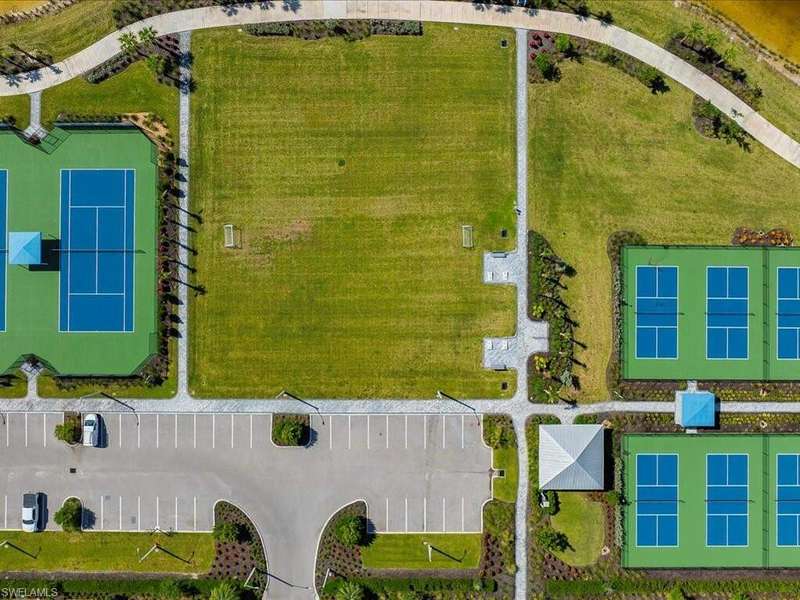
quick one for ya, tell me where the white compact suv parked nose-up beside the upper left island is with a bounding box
[80,414,98,446]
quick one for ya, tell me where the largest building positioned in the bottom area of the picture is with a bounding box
[538,423,605,490]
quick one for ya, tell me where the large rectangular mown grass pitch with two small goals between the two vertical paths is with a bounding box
[190,21,517,398]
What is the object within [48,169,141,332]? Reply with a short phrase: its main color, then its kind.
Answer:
blue tennis court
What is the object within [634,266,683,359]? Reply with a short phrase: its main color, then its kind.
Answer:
blue sports court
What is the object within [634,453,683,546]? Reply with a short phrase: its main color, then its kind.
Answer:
blue sports court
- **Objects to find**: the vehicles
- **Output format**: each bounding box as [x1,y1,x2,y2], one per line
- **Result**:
[80,414,98,446]
[22,491,41,531]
